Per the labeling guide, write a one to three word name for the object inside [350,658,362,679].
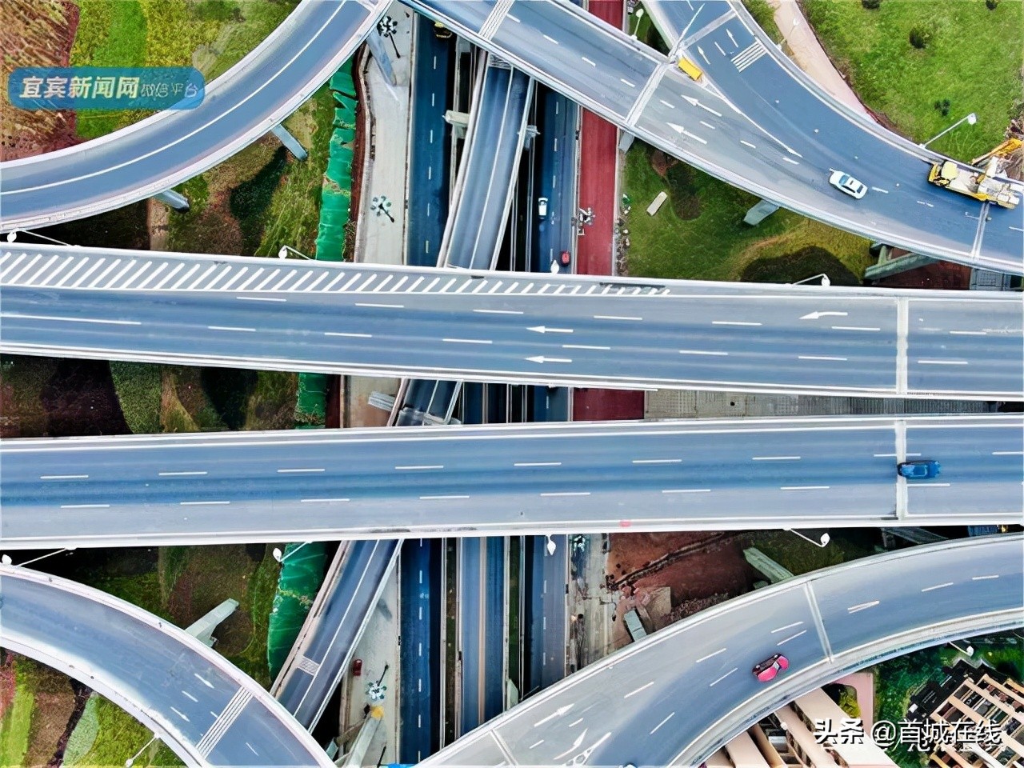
vehicle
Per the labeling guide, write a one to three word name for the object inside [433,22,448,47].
work vehicle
